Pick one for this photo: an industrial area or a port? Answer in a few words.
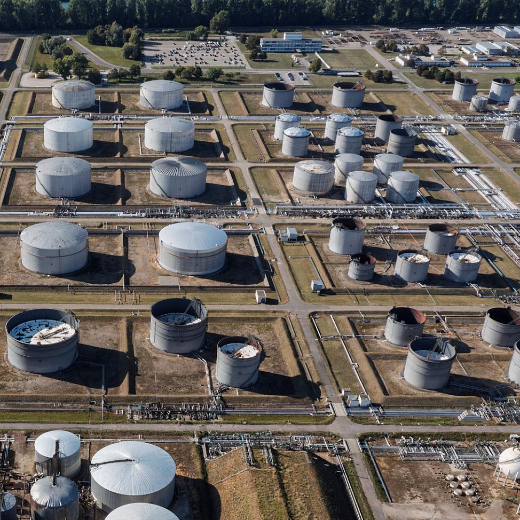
industrial area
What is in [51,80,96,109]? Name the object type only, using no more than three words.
storage tank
